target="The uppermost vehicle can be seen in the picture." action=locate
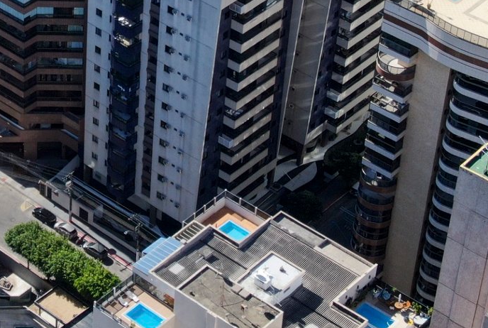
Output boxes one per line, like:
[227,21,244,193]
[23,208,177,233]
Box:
[31,203,59,223]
